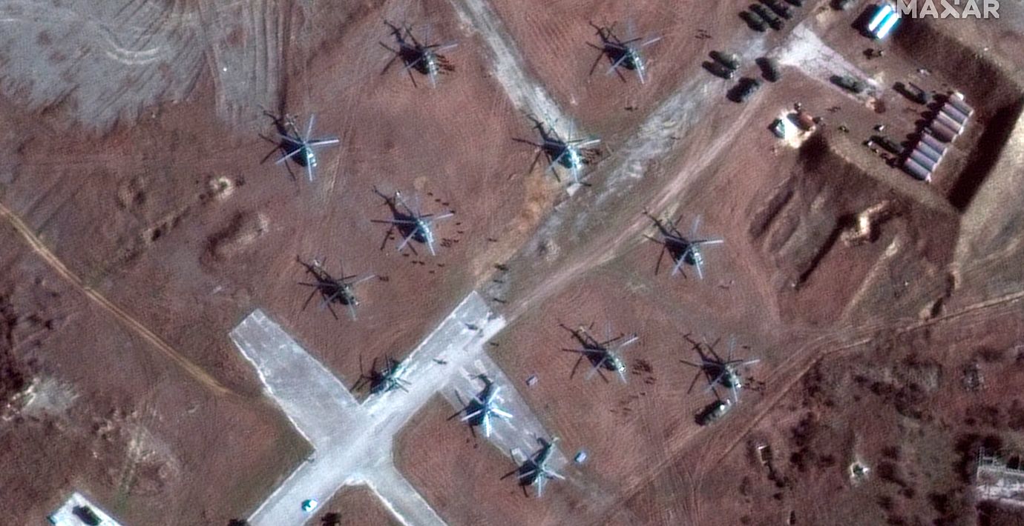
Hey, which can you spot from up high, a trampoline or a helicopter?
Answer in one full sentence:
The one in the frame is a helicopter.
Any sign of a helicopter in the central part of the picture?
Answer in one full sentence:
Yes, a helicopter shows up in the central part of the picture.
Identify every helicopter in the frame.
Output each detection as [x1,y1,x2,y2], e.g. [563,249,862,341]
[309,255,374,315]
[659,213,723,275]
[386,191,451,251]
[359,351,421,414]
[538,117,602,178]
[695,334,759,397]
[394,21,458,83]
[276,109,338,176]
[456,371,521,442]
[575,319,640,381]
[508,435,573,505]
[599,19,663,79]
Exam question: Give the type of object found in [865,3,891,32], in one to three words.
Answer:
tent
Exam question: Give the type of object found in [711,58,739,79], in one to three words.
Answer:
truck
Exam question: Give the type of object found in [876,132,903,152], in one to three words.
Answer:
vehicle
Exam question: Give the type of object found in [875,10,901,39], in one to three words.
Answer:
tent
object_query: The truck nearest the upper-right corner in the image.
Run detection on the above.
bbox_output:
[900,79,928,101]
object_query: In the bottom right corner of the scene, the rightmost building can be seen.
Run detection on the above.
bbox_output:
[976,447,1024,508]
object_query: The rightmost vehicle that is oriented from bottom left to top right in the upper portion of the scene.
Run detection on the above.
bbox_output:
[735,78,761,98]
